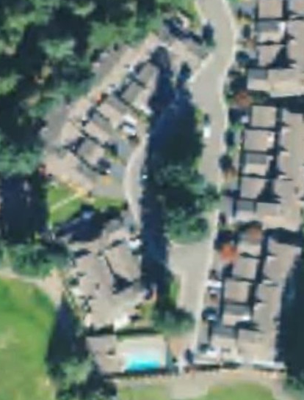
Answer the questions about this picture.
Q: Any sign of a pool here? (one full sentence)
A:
Yes, there's a pool here.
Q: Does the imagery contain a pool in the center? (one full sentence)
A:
No, I see no pool in the center.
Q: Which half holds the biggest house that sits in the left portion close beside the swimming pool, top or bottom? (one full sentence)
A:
You can find the biggest house that sits in the left portion close beside the swimming pool in the bottom half.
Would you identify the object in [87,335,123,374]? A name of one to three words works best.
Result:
building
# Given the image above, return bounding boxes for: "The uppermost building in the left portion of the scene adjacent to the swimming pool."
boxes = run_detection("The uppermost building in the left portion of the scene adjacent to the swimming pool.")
[68,225,147,330]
